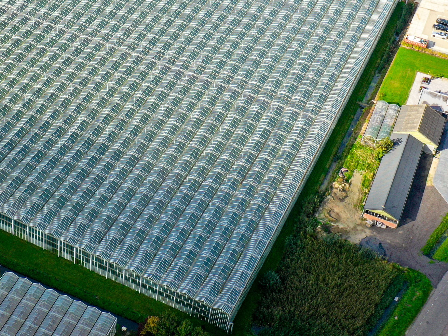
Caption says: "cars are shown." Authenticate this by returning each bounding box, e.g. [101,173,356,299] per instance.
[433,24,448,33]
[436,17,448,27]
[433,32,448,40]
